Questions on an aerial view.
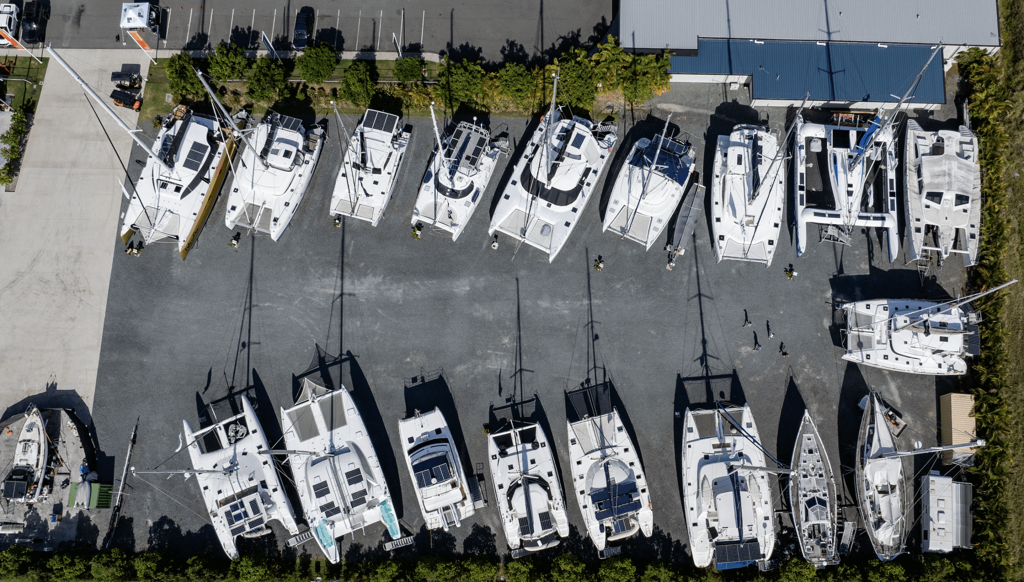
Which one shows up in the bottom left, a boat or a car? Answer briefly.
boat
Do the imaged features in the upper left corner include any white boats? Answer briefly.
Yes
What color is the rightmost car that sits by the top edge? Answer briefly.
black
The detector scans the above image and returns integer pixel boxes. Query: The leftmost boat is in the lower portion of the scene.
[4,405,65,502]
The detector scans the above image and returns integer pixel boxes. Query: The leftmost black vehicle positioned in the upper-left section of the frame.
[19,0,49,46]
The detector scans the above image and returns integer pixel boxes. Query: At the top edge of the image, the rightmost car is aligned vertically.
[291,7,315,52]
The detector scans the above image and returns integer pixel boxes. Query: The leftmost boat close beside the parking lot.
[46,45,245,260]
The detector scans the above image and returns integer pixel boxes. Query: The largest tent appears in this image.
[120,2,157,38]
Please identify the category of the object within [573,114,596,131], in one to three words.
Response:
boat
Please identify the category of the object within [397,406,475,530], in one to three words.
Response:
boat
